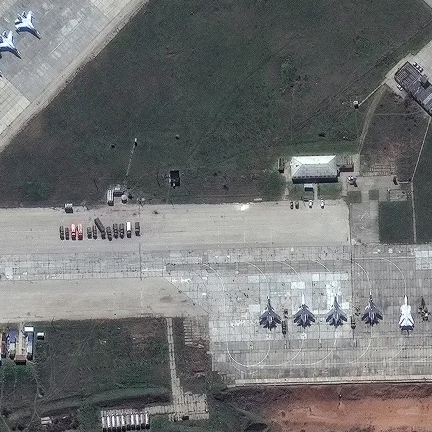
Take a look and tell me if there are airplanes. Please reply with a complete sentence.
Yes, the frame does contain an airplane.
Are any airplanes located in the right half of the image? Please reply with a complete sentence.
Yes, in the right half of the image there is an airplane.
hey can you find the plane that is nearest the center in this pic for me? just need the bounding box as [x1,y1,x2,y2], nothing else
[258,296,281,327]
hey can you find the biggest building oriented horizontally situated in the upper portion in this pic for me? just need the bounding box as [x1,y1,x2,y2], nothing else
[291,156,338,179]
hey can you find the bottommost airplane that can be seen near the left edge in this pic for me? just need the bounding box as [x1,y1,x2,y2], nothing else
[0,28,19,54]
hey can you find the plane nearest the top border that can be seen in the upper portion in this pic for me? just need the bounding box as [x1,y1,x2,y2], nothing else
[13,10,41,37]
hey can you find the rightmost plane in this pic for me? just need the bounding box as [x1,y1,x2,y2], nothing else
[399,296,414,329]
